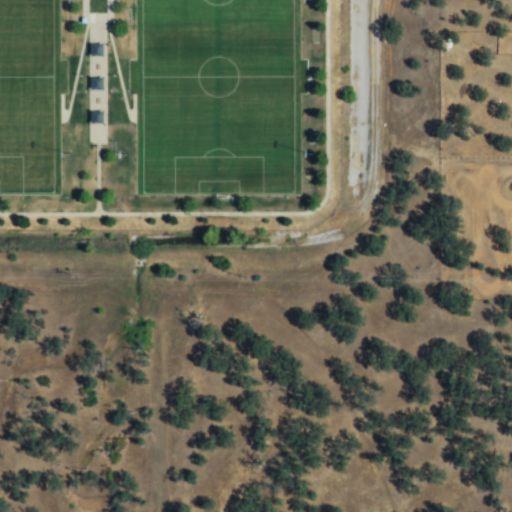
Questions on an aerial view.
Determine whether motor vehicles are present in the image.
No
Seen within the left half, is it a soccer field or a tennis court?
soccer field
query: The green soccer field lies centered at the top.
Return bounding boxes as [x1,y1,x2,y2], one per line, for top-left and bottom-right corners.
[130,0,308,195]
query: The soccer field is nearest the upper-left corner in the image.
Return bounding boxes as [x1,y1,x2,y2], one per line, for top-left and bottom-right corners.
[0,0,68,194]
